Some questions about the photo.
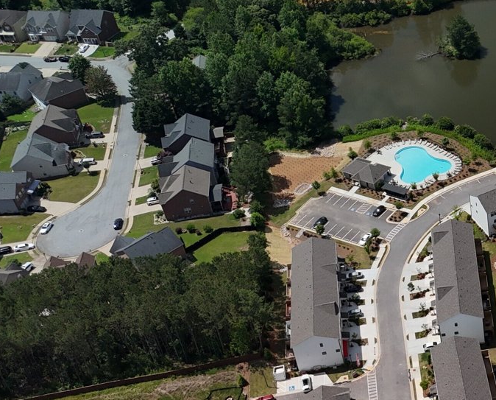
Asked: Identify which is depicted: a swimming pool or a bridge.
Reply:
swimming pool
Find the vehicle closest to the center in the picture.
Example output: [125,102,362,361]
[312,216,327,228]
